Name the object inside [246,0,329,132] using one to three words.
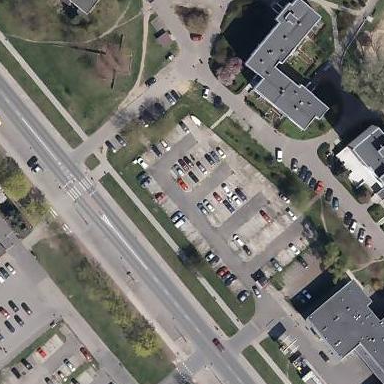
building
